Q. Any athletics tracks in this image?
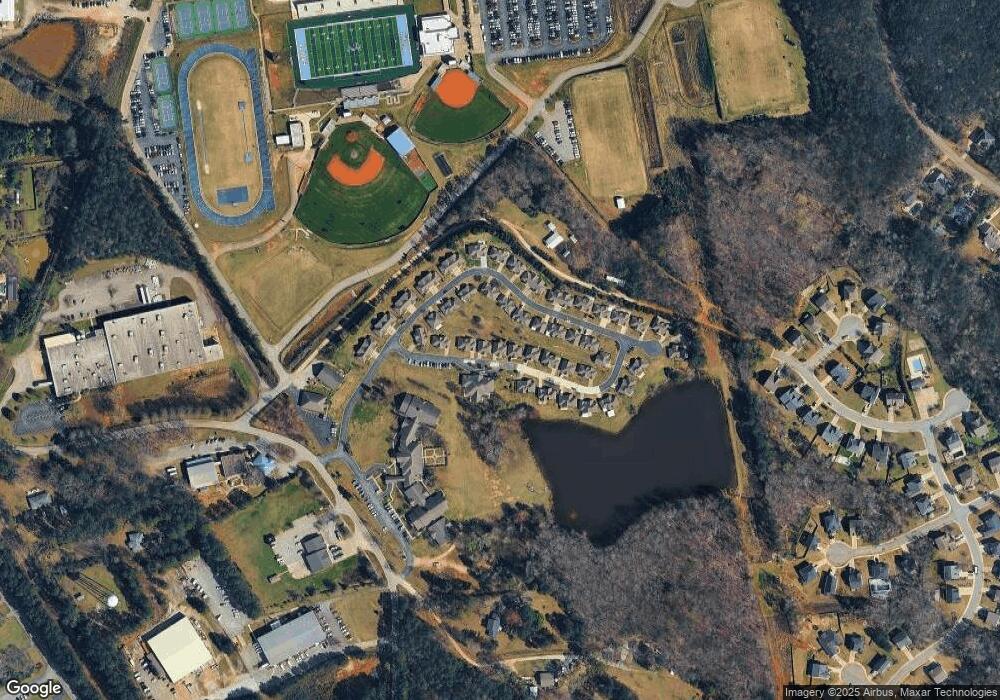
Yes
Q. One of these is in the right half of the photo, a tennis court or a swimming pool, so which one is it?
swimming pool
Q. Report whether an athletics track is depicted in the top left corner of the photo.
Yes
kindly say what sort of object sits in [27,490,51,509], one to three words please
house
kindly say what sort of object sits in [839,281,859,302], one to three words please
house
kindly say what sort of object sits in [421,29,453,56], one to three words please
building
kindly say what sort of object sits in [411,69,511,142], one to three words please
baseball field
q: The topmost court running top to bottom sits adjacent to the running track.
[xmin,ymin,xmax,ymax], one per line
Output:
[153,57,172,96]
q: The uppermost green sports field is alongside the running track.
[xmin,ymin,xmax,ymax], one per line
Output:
[287,4,421,89]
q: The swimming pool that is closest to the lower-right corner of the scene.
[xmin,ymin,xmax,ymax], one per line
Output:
[869,578,891,596]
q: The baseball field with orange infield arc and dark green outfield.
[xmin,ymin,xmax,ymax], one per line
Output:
[294,124,431,246]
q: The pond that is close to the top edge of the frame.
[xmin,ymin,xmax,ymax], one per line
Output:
[8,21,79,78]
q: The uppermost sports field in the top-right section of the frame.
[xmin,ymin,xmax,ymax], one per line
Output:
[708,0,806,120]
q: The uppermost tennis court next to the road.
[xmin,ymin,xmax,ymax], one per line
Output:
[173,0,251,40]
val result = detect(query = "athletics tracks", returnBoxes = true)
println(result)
[179,44,276,226]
